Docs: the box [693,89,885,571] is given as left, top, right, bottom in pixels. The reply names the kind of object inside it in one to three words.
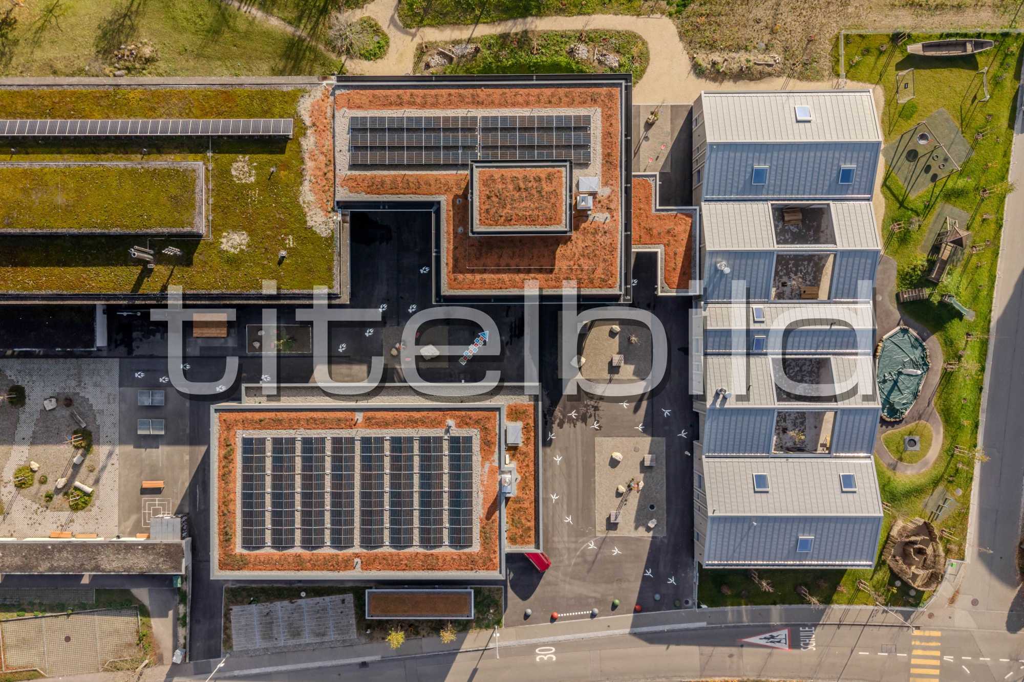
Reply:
building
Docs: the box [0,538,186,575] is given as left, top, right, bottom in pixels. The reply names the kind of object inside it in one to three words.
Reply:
shed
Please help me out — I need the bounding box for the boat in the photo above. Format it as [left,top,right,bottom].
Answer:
[907,39,994,55]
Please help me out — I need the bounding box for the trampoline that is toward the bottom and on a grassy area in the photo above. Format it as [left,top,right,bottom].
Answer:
[905,436,920,450]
